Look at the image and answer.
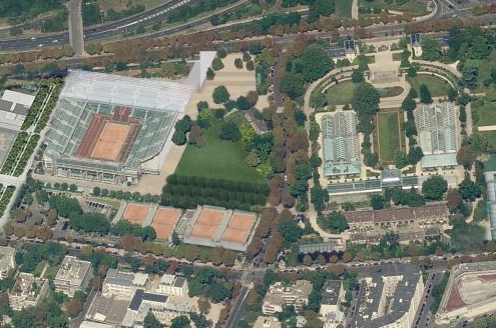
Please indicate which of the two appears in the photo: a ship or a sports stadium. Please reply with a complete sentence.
It is a sports stadium that can be seen here.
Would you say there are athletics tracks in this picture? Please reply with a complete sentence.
No, the picture doesn't show any athletics track.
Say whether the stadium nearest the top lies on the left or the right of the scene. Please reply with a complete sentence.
The stadium nearest the top appears in the left half of the scene.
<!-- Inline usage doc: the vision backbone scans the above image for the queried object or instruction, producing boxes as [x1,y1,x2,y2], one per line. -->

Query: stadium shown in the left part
[43,68,201,187]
